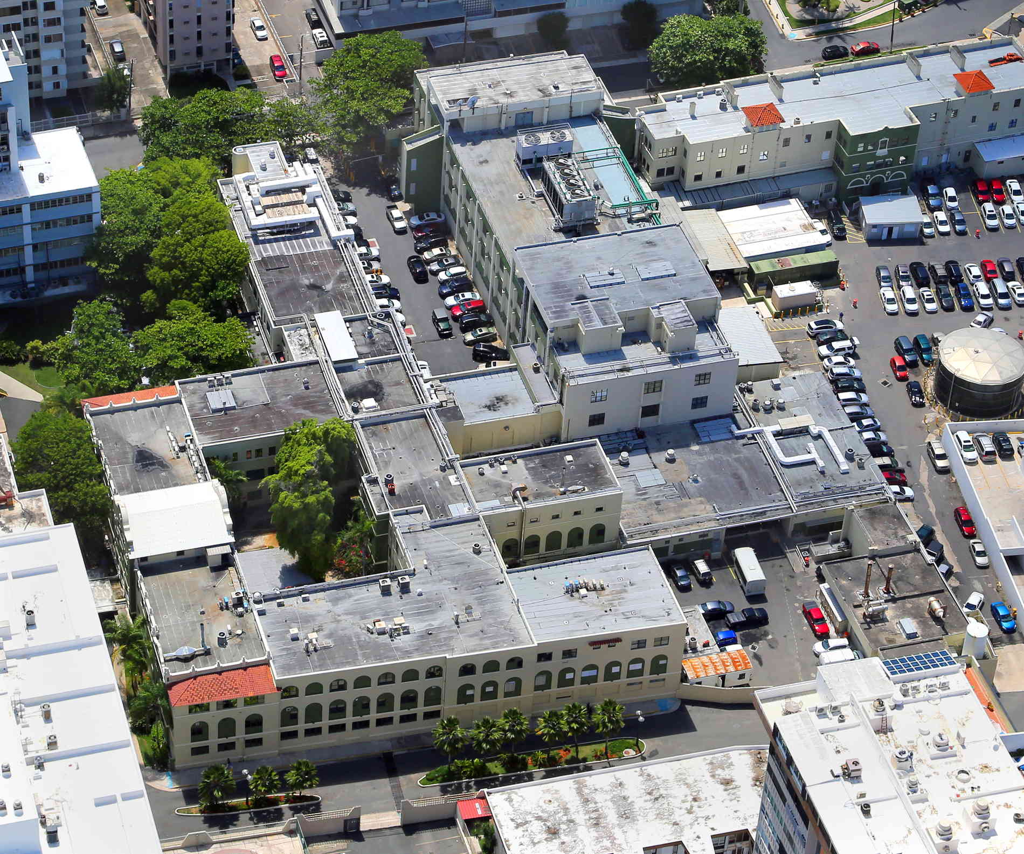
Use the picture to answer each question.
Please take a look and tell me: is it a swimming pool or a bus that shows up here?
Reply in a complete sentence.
There is a bus in the scene.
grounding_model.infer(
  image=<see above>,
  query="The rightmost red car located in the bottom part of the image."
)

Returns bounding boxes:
[954,506,975,538]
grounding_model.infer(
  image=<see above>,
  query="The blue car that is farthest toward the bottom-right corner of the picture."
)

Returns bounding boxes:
[992,603,1014,635]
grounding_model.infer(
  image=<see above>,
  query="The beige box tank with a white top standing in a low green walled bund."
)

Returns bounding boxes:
[768,274,825,309]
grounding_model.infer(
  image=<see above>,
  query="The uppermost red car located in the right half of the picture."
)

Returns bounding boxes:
[849,42,881,57]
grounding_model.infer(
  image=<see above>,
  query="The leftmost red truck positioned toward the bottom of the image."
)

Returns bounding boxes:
[803,602,829,640]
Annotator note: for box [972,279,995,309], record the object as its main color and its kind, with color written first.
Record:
white vehicle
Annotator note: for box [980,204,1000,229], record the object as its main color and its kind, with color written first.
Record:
white car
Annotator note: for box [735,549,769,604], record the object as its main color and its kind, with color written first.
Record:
white bus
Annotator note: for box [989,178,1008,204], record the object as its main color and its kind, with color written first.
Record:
red car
